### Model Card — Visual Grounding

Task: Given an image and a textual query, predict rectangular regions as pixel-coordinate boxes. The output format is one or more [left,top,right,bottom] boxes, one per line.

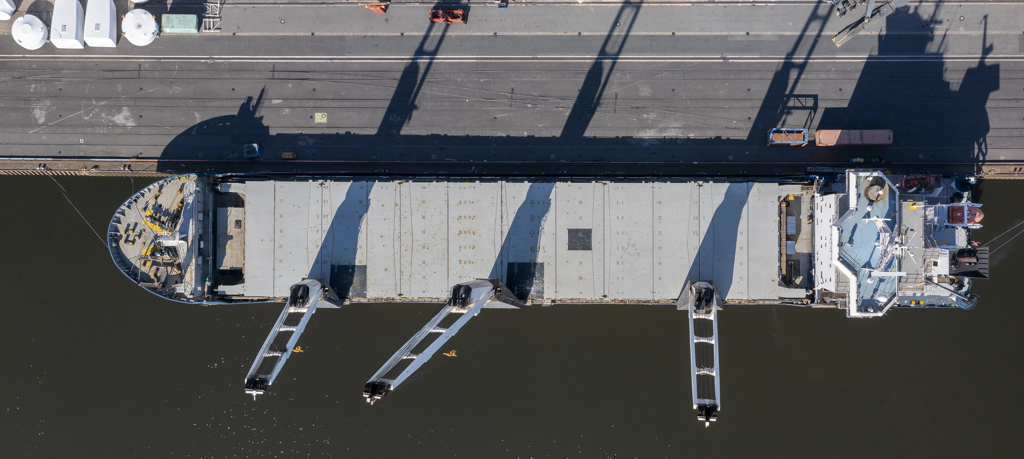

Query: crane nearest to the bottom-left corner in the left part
[244,279,342,398]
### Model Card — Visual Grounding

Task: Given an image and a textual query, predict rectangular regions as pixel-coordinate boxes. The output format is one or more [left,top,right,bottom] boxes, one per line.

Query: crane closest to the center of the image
[363,279,527,406]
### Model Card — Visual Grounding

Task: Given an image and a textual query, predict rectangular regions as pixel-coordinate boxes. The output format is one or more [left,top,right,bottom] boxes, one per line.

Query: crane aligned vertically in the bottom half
[677,281,723,428]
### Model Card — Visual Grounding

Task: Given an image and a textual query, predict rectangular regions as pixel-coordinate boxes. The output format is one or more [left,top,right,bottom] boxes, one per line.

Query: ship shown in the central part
[108,169,990,318]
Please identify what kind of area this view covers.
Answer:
port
